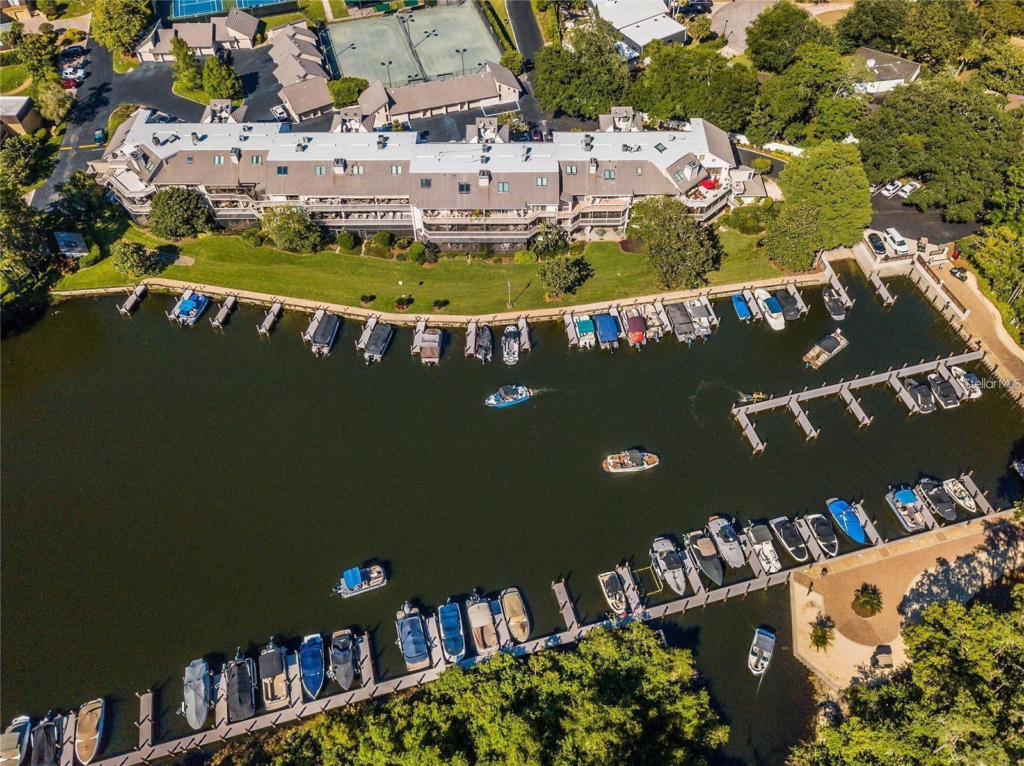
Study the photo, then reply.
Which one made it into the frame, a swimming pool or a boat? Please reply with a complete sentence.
I can see a boat in this picture.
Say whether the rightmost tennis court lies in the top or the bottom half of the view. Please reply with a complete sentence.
The top half of the photo is where the rightmost tennis court is.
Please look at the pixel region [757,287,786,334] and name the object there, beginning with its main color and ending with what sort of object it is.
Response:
white boat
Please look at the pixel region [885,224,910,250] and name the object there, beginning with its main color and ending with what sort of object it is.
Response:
white car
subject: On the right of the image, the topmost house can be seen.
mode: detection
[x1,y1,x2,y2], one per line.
[586,0,687,51]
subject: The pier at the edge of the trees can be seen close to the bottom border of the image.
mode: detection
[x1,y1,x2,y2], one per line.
[53,531,792,766]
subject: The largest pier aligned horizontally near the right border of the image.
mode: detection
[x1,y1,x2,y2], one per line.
[731,346,986,455]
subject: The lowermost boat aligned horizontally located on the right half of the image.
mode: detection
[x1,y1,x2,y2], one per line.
[600,447,659,472]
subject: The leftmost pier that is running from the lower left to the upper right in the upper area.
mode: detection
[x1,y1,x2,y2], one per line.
[116,281,150,317]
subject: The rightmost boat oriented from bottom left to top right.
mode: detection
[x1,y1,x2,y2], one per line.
[799,329,850,370]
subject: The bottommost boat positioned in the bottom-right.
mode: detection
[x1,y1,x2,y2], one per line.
[748,623,777,675]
